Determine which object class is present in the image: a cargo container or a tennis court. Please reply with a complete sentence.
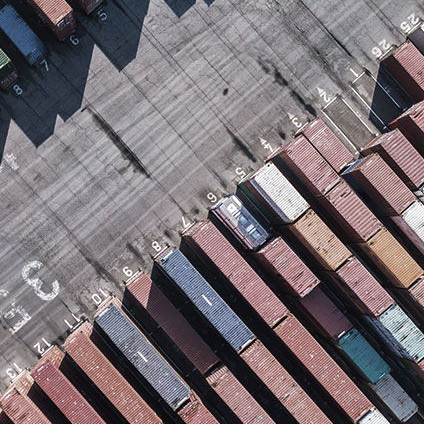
There is a cargo container in the scene.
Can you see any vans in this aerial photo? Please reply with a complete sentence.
No, there's no van here.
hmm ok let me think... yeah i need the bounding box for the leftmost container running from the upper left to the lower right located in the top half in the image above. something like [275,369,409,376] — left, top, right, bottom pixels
[0,4,46,65]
